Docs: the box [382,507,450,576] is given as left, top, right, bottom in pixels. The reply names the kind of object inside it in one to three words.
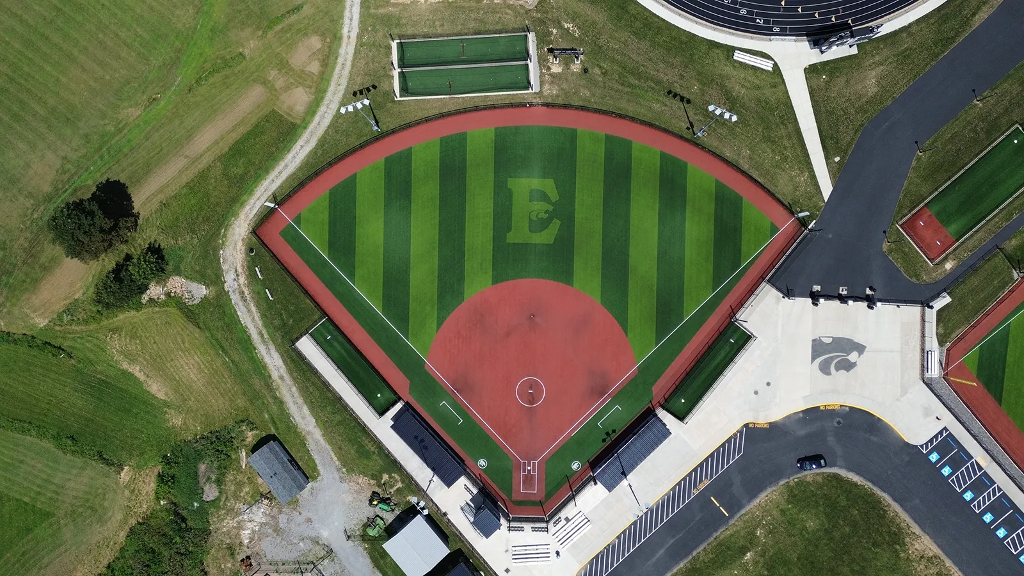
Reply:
building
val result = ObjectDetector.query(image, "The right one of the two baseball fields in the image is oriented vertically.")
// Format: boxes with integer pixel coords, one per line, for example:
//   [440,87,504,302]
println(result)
[943,279,1024,469]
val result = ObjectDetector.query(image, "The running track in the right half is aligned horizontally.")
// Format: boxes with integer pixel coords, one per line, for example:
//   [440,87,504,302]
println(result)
[658,0,924,40]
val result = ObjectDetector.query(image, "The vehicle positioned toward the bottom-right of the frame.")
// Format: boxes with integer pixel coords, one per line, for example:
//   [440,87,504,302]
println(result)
[798,456,826,471]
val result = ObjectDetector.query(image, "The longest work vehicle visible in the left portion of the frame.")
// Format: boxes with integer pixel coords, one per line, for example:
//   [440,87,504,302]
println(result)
[368,495,396,515]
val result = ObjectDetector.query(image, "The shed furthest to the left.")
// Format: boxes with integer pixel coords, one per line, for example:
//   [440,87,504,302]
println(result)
[248,440,309,504]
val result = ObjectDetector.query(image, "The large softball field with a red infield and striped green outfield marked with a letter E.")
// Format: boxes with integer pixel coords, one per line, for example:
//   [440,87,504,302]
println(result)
[255,106,804,516]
